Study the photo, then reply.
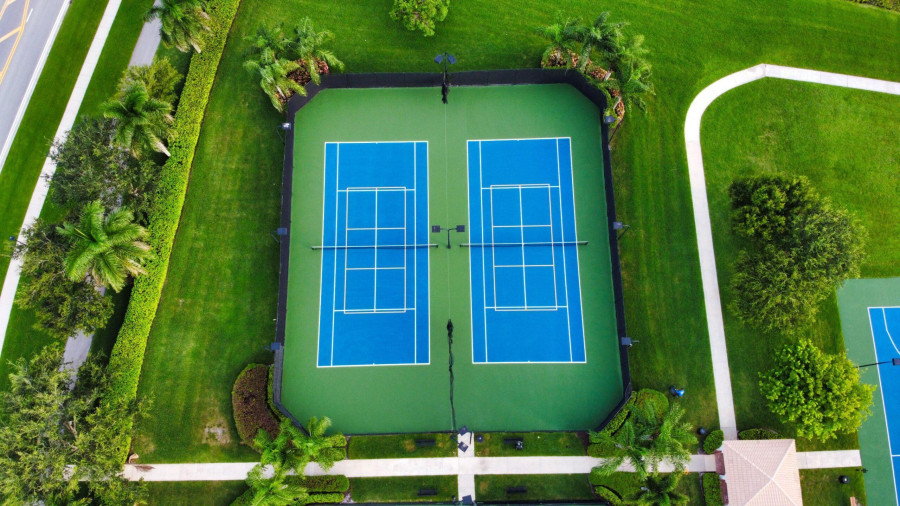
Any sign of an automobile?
No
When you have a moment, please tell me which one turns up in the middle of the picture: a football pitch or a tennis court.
tennis court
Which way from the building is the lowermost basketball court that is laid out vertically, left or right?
right of it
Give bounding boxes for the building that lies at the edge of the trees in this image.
[715,437,805,506]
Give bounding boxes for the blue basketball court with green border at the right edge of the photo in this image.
[836,278,900,506]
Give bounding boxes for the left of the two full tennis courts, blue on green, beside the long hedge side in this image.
[280,86,452,435]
